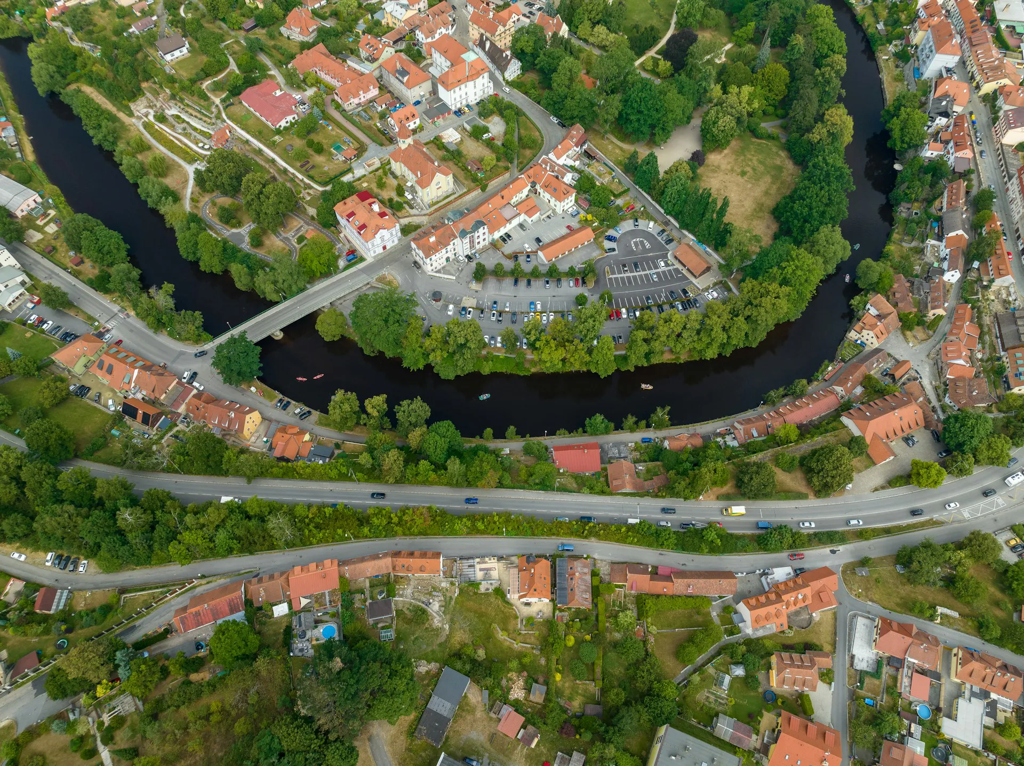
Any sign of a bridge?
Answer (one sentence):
Yes, this view includes a bridge.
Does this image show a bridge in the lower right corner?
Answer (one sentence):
No, I see no bridge in the lower right corner.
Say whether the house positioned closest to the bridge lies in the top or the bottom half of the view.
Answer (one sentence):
Seen from above, the house positioned closest to the bridge lies in the top half of the view.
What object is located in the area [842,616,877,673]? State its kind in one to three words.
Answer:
building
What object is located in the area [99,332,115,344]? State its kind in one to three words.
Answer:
vehicle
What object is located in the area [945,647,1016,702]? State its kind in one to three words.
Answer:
house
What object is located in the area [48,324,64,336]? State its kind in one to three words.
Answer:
vehicle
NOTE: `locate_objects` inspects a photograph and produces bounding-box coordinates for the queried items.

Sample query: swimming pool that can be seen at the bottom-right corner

[915,702,933,722]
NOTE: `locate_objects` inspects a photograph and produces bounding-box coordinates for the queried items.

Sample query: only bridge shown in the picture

[200,257,383,367]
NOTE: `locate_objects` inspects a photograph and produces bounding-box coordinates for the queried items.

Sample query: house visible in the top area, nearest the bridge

[334,191,400,260]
